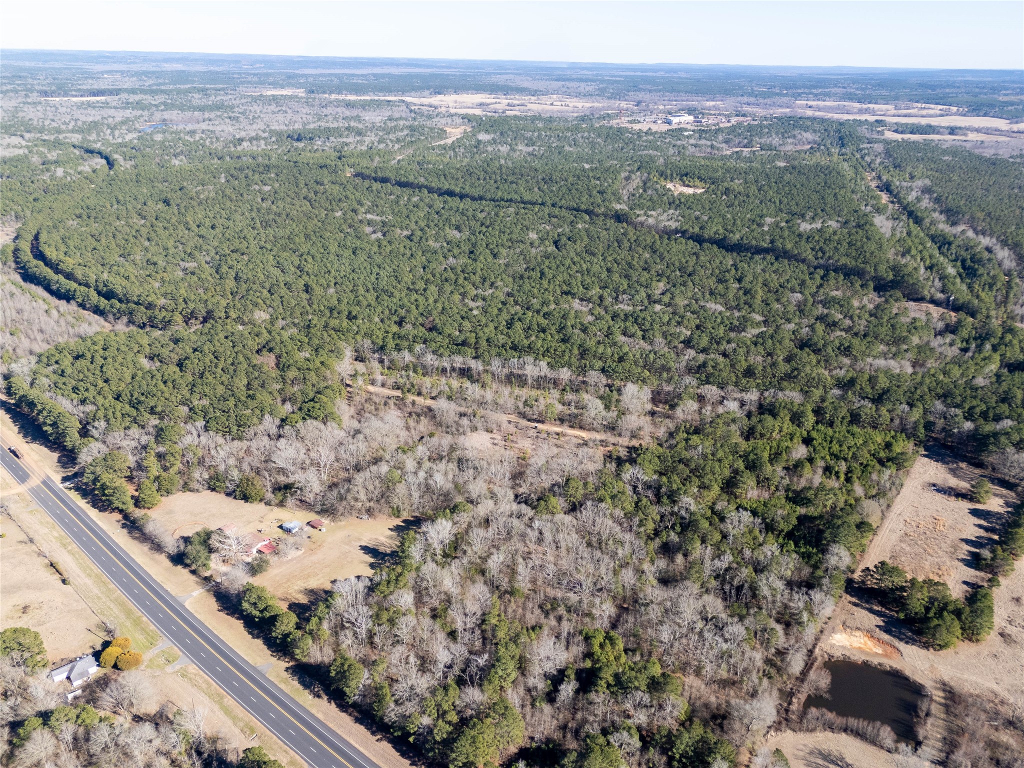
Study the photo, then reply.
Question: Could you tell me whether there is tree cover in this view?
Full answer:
Yes, there is tree cover in the image.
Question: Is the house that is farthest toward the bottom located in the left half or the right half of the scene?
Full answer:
You can find the house that is farthest toward the bottom on the left side of the picture.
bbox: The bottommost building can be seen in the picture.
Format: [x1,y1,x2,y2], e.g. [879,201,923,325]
[49,655,101,687]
